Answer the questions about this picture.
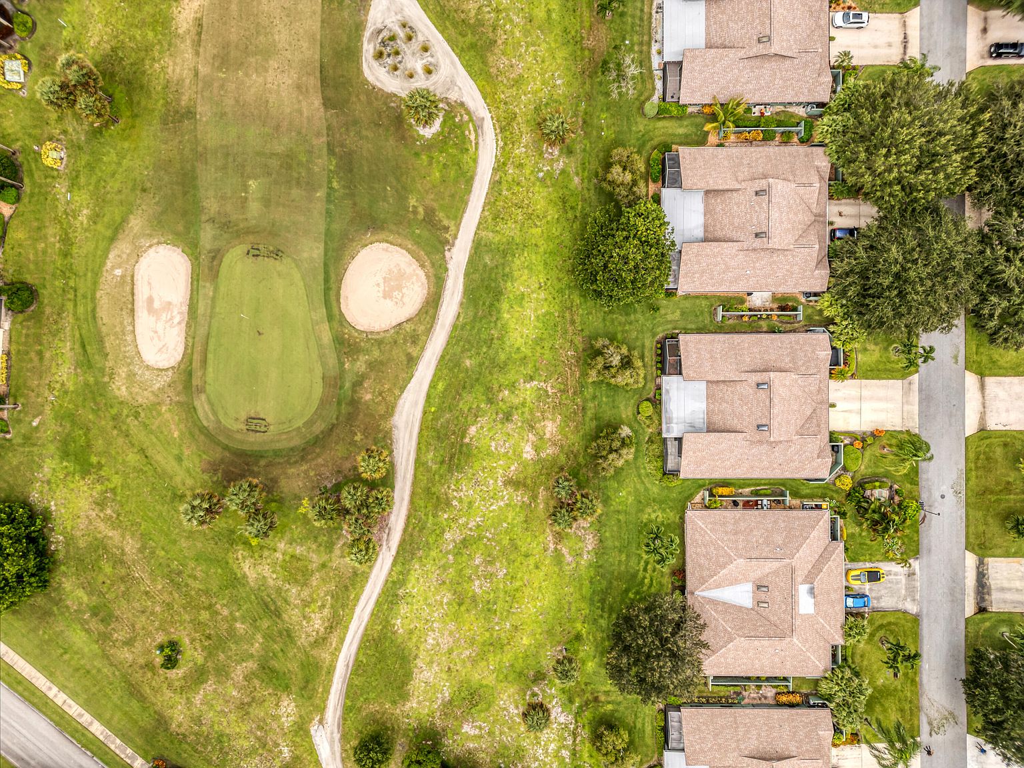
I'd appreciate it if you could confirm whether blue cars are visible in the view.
Yes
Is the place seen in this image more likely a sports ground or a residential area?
residential area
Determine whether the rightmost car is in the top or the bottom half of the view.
top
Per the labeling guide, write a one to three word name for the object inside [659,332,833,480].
house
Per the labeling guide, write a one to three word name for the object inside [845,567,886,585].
car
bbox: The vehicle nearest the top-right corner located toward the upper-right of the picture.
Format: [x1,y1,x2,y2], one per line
[988,40,1024,61]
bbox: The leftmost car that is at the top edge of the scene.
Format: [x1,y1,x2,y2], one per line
[832,10,871,30]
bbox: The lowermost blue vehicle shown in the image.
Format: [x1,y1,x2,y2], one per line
[845,592,873,610]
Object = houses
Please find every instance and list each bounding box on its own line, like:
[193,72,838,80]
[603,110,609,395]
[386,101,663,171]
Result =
[658,146,833,293]
[659,332,833,480]
[659,0,833,108]
[685,509,845,677]
[661,702,833,768]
